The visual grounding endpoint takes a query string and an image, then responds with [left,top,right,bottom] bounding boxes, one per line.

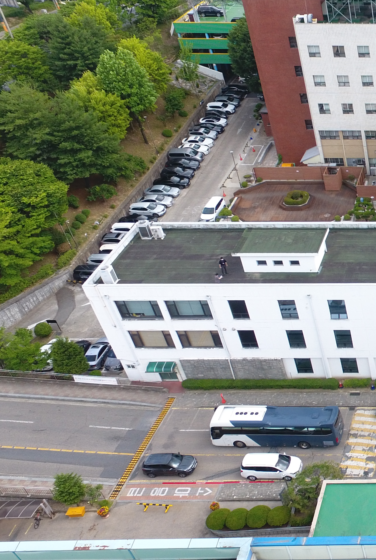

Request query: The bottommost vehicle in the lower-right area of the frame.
[243,450,306,478]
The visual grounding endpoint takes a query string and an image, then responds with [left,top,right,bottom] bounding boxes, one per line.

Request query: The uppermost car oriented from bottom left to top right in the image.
[199,195,234,222]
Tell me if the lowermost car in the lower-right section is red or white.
white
